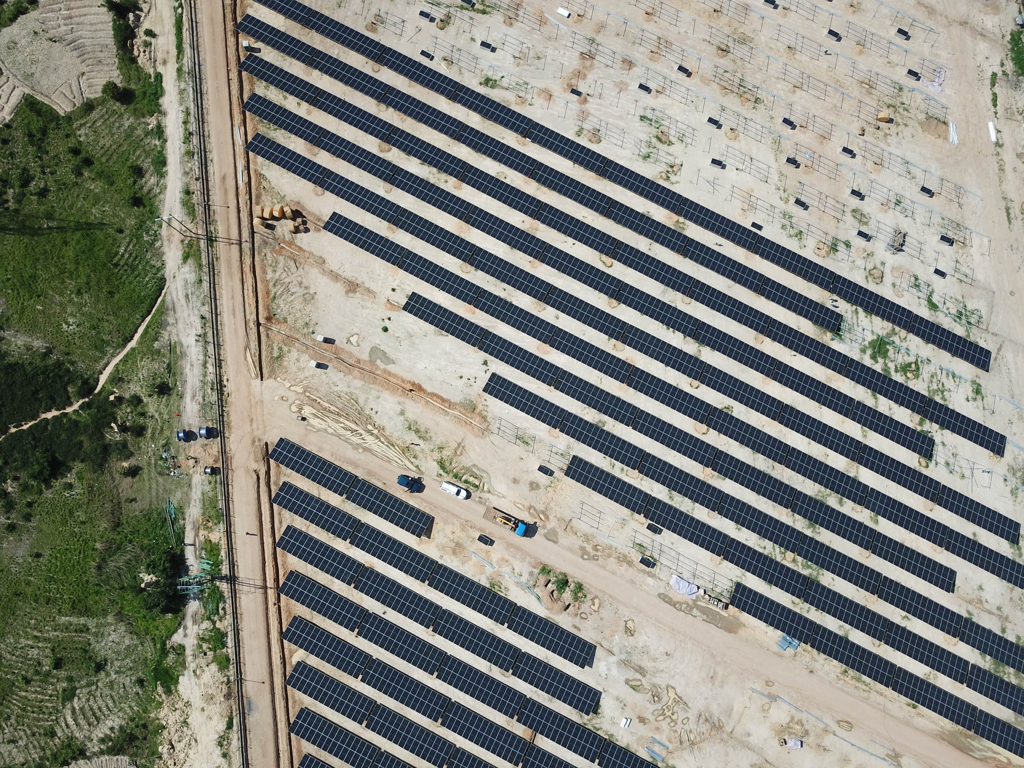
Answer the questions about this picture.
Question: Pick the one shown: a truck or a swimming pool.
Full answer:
Of the two, only a truck appears.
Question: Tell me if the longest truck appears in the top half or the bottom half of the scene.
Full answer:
The bottom half of the photo is where the longest truck is.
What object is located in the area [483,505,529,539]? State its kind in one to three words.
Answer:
truck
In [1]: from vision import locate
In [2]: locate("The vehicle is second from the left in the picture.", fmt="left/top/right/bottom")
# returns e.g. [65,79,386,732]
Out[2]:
[439,481,467,500]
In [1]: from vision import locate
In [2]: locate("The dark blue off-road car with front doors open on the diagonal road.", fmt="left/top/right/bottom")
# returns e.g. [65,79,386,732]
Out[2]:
[396,475,422,494]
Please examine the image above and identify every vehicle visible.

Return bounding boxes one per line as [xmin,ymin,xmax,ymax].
[396,475,422,494]
[483,505,529,539]
[439,481,467,500]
